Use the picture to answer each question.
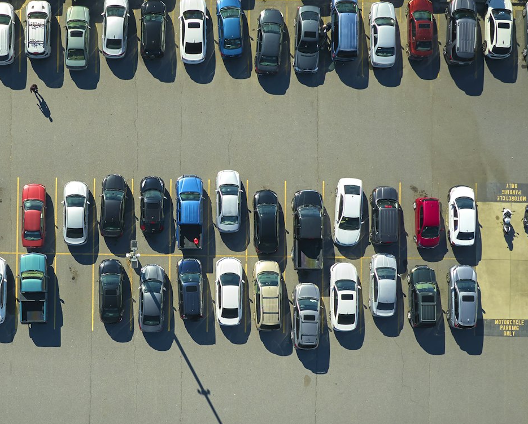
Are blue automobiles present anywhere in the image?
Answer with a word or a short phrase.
Yes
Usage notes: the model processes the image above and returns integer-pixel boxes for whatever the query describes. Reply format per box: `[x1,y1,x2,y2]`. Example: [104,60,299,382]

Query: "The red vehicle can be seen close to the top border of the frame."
[406,0,437,61]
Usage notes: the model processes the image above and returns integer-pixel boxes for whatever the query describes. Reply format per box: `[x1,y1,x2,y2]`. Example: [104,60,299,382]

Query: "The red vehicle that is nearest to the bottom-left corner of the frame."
[19,184,47,248]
